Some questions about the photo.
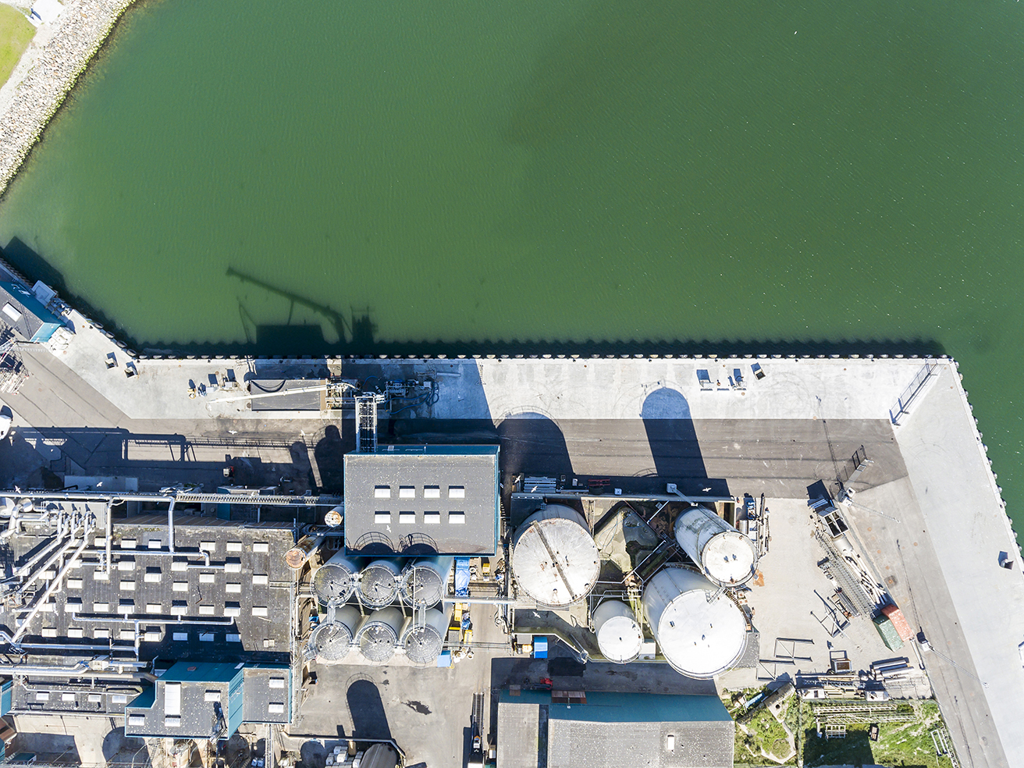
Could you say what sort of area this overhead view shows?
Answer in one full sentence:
The picture captures an industrial area.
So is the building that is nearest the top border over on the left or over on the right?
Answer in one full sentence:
It is on the left.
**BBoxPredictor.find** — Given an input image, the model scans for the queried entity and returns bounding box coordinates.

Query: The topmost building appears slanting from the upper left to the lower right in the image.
[0,283,66,342]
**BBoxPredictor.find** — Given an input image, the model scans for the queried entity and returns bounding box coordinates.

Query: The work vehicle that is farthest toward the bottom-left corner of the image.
[223,461,237,476]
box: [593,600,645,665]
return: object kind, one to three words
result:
storage tank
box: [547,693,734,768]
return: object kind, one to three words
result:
building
